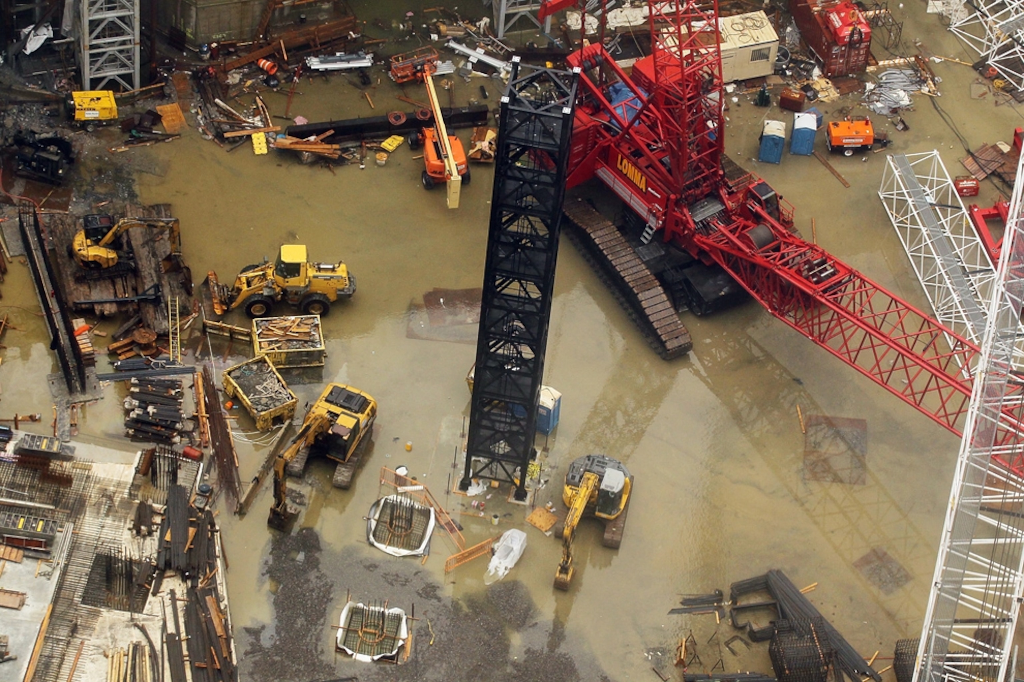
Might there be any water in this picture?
Yes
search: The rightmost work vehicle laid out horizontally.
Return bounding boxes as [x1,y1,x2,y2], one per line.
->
[198,250,355,323]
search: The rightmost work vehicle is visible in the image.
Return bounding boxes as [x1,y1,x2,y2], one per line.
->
[550,442,637,586]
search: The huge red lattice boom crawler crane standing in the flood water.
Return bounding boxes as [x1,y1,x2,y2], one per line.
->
[530,0,1024,478]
